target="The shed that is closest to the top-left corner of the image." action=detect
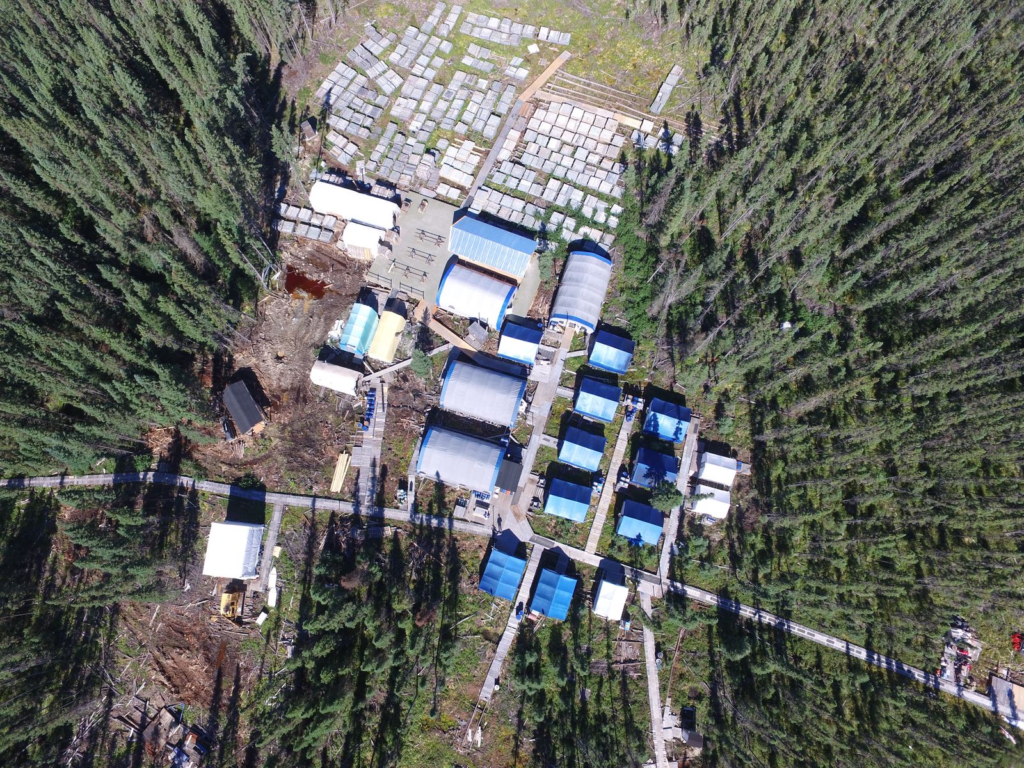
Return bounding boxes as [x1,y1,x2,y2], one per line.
[297,120,323,147]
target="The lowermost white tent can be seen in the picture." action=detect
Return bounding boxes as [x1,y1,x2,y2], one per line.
[594,579,628,621]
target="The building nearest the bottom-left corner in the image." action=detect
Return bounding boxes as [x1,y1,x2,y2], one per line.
[202,522,267,577]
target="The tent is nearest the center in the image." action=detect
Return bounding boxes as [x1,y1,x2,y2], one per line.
[497,323,544,368]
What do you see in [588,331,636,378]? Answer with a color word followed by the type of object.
blue tent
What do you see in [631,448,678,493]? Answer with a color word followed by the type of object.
blue tent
